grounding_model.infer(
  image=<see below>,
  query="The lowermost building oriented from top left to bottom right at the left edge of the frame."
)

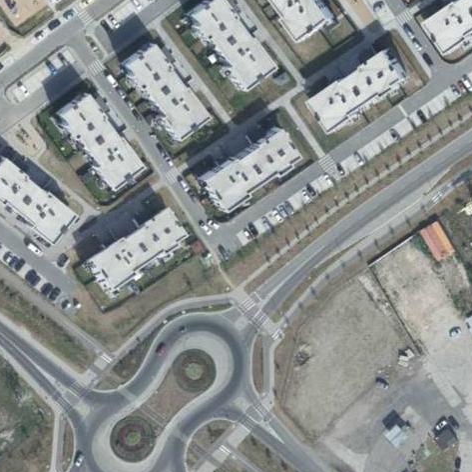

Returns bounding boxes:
[0,153,78,242]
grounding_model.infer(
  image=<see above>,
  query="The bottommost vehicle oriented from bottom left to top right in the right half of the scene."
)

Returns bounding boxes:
[433,418,450,433]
